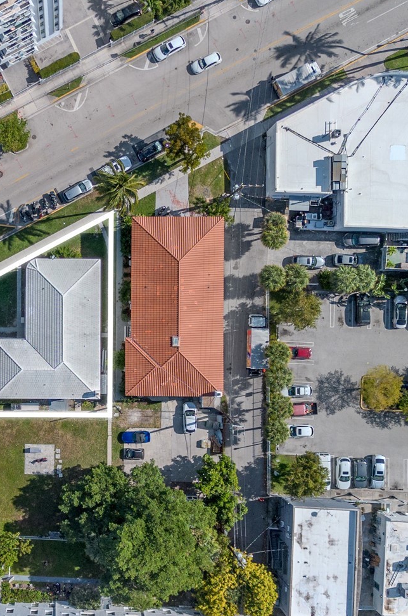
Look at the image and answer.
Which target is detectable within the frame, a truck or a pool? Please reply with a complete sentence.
Looking from above, you can make out a truck.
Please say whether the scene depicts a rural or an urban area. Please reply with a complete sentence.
It looks urban.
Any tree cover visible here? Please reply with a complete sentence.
Yes, some tree cover is visible.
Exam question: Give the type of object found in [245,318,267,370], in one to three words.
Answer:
truck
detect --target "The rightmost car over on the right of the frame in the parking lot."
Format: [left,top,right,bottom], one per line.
[392,297,408,329]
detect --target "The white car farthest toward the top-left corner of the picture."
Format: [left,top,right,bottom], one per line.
[152,37,186,62]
